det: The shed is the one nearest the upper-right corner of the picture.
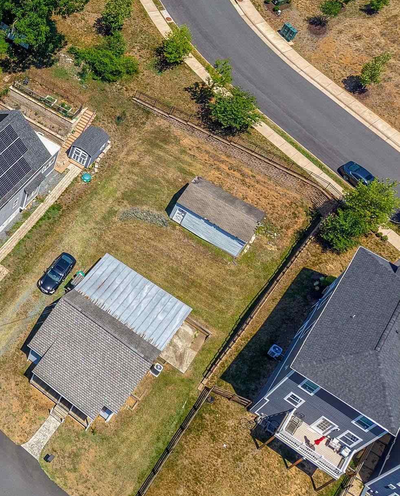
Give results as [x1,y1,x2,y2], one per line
[170,173,266,254]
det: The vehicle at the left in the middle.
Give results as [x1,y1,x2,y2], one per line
[39,248,79,292]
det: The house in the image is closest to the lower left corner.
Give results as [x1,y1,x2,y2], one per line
[28,252,192,423]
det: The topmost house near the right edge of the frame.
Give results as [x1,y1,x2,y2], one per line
[253,246,400,454]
